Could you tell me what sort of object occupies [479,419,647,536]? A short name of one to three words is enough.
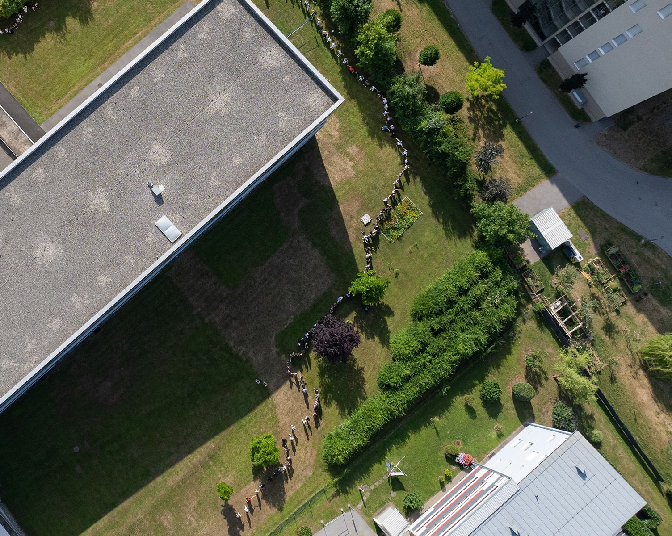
house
